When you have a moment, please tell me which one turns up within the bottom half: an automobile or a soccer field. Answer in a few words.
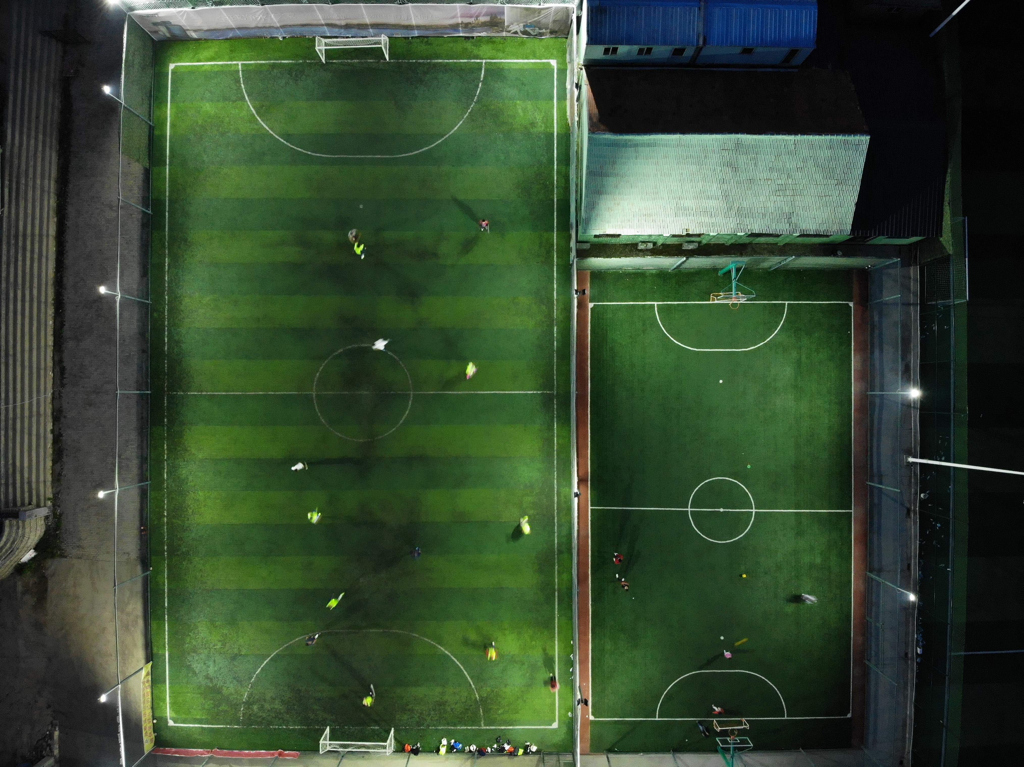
soccer field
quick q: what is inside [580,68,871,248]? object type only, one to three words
building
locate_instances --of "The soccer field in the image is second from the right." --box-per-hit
[578,270,869,756]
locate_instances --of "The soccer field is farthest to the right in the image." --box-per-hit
[931,0,1024,752]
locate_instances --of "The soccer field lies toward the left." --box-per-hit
[152,36,572,756]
